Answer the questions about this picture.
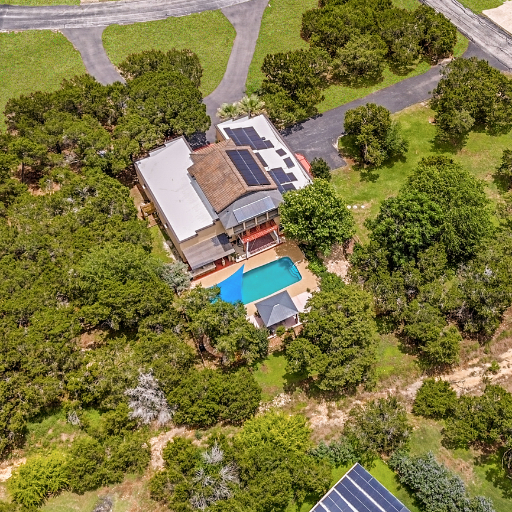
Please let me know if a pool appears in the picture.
Yes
